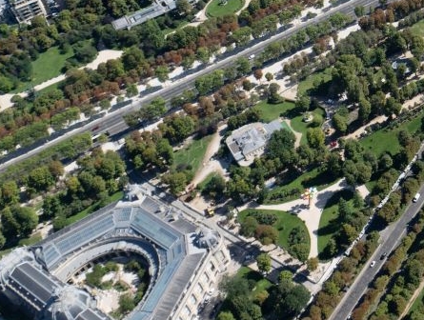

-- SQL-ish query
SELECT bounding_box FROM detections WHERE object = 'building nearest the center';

[224,122,289,174]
